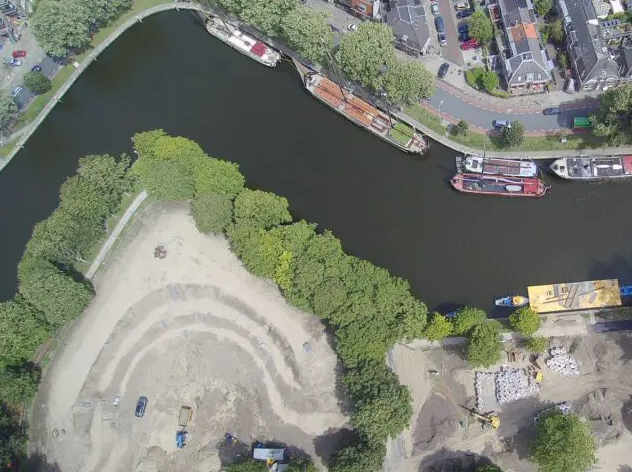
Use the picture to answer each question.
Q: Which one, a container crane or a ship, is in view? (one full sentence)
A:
Of the two, only a ship appears.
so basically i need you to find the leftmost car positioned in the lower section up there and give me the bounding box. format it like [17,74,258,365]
[133,398,146,417]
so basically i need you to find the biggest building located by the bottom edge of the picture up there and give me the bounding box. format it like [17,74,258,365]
[249,449,284,463]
